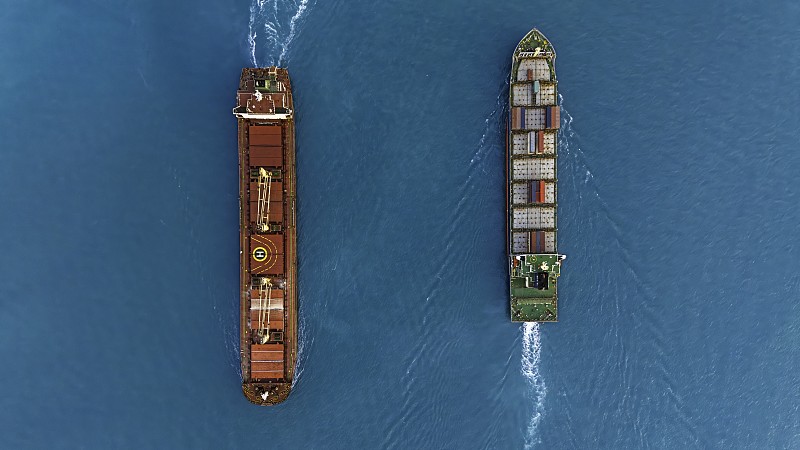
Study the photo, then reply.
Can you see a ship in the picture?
Yes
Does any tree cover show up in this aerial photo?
No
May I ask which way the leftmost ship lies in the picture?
from top to bottom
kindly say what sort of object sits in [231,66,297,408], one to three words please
ship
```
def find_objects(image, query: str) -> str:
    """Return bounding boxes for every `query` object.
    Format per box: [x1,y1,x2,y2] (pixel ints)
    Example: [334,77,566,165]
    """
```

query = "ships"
[506,27,566,323]
[231,66,297,408]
